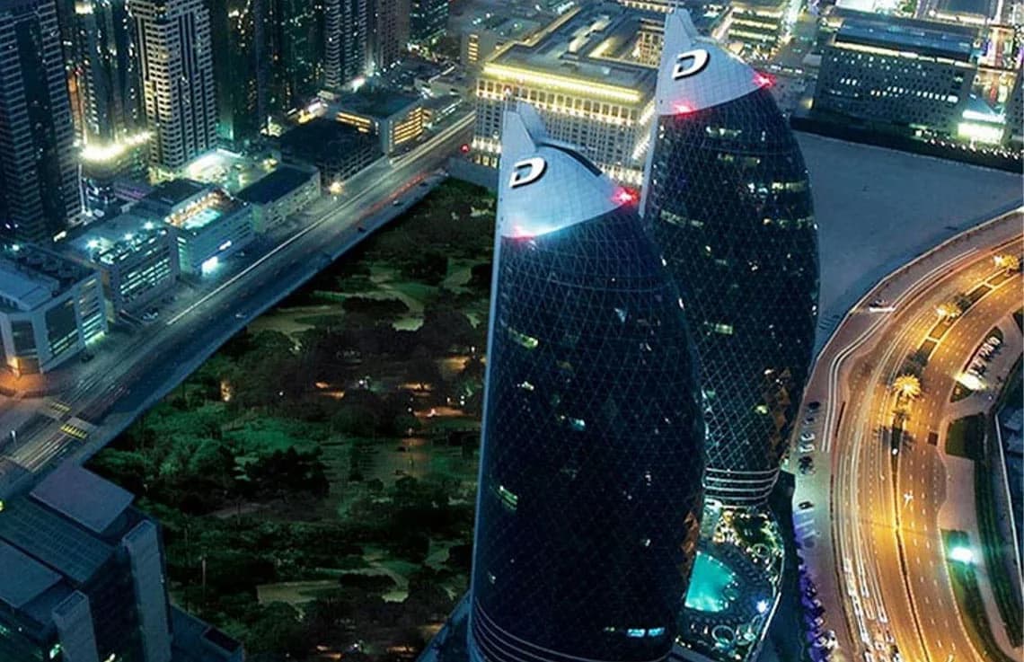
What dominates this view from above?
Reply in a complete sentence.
The bulk of the photo consists of buildings.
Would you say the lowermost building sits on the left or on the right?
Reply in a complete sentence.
It is on the left.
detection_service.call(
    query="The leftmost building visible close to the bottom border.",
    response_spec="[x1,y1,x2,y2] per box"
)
[0,464,243,662]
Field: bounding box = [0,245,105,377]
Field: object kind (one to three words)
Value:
building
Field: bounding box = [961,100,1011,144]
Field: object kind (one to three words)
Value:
building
